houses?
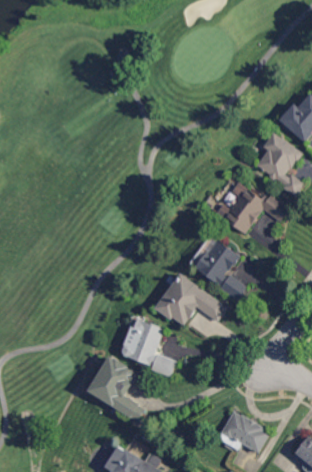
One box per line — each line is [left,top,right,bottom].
[296,438,312,472]
[192,238,246,298]
[280,93,312,140]
[122,318,176,376]
[88,356,146,423]
[221,412,270,455]
[218,182,284,234]
[104,447,164,472]
[156,274,228,328]
[260,132,304,195]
